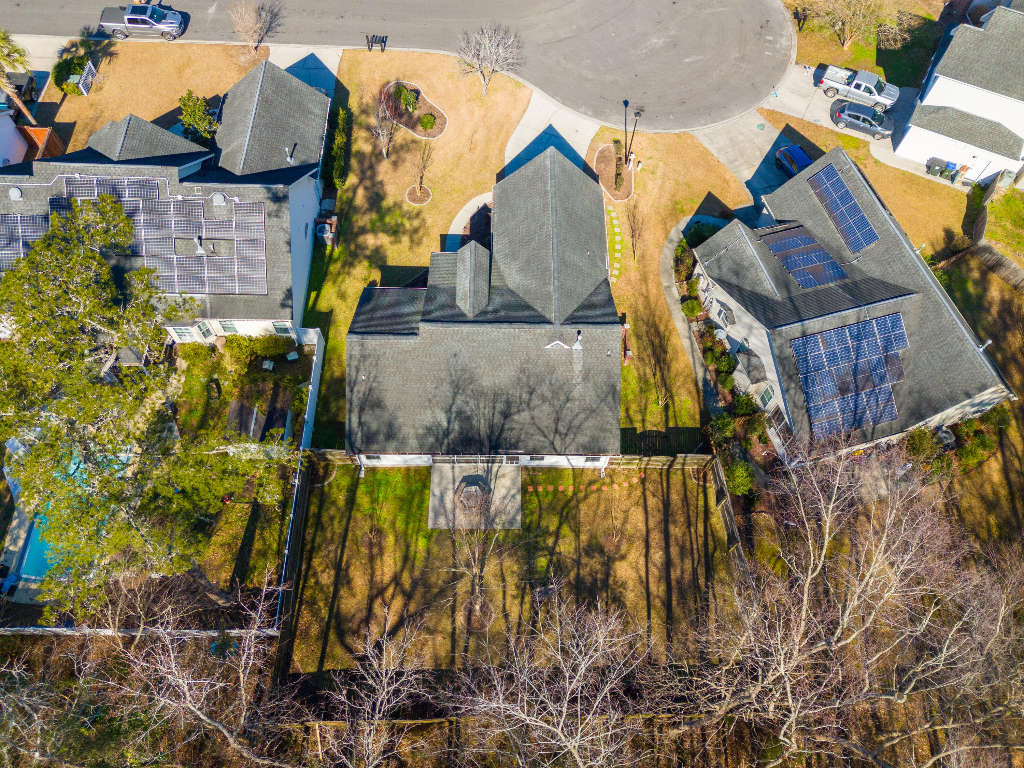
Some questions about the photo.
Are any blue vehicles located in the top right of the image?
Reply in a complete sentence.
Yes, you'll find a blue vehicle in the top right of the image.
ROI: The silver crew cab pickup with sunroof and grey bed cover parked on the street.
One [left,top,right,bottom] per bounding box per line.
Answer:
[98,0,190,40]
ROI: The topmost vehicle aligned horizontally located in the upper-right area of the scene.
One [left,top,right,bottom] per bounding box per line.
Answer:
[815,59,909,111]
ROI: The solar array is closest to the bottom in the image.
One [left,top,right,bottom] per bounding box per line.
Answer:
[790,311,912,443]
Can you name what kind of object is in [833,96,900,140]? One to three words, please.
car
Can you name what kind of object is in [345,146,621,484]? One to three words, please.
house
